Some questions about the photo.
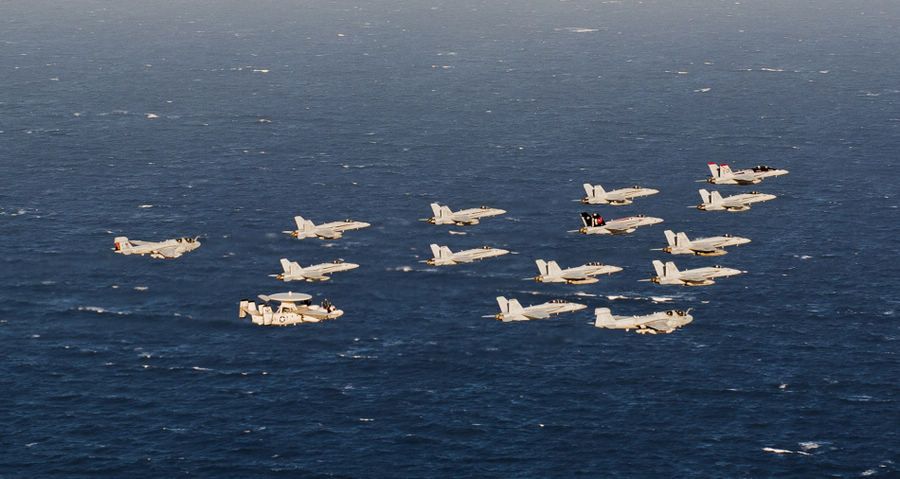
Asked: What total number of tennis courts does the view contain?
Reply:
0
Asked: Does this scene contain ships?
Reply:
No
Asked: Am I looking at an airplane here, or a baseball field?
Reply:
airplane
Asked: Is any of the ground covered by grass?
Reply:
No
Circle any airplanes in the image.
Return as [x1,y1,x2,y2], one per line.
[569,211,664,235]
[641,259,741,287]
[418,243,509,265]
[269,259,359,281]
[283,216,370,238]
[587,306,693,336]
[487,296,587,320]
[418,204,506,226]
[655,229,751,255]
[241,291,344,326]
[696,162,789,185]
[573,183,659,206]
[110,234,200,258]
[689,188,775,212]
[526,258,623,285]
